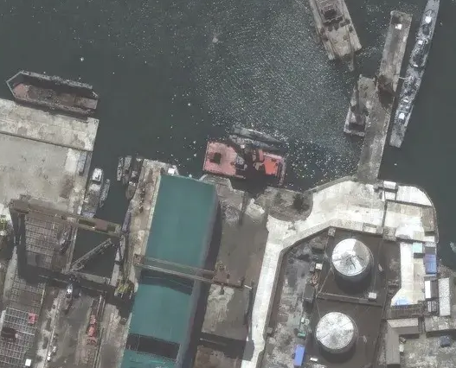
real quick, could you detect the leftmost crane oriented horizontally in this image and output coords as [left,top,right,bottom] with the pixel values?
[7,196,131,268]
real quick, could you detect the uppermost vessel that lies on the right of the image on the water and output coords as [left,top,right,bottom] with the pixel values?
[309,0,362,71]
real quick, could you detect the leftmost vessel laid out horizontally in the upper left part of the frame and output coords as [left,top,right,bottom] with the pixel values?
[6,70,101,118]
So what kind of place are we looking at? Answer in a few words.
port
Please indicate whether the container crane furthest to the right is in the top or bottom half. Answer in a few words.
bottom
